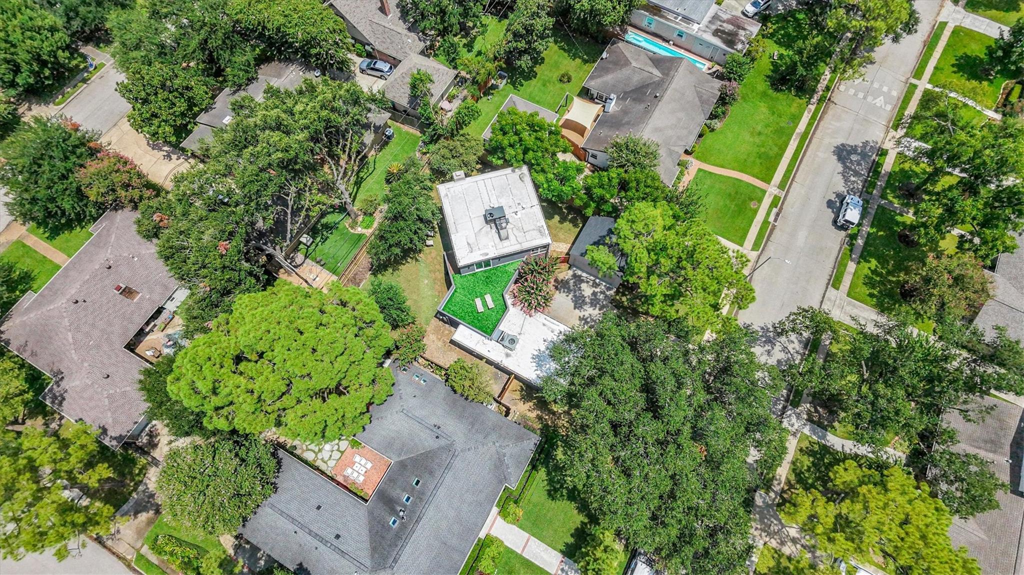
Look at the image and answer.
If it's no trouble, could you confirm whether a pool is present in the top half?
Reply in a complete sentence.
Yes, a pool shows up in the top half.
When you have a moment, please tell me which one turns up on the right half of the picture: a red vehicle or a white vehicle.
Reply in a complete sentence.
Visible on the right half of the picture is a white vehicle.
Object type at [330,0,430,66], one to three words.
house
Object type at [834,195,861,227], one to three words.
car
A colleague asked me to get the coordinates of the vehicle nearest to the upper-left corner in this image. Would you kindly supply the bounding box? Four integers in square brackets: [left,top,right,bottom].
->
[357,60,392,81]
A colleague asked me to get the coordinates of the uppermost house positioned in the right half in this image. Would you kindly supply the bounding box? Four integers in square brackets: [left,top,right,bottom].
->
[625,0,762,65]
